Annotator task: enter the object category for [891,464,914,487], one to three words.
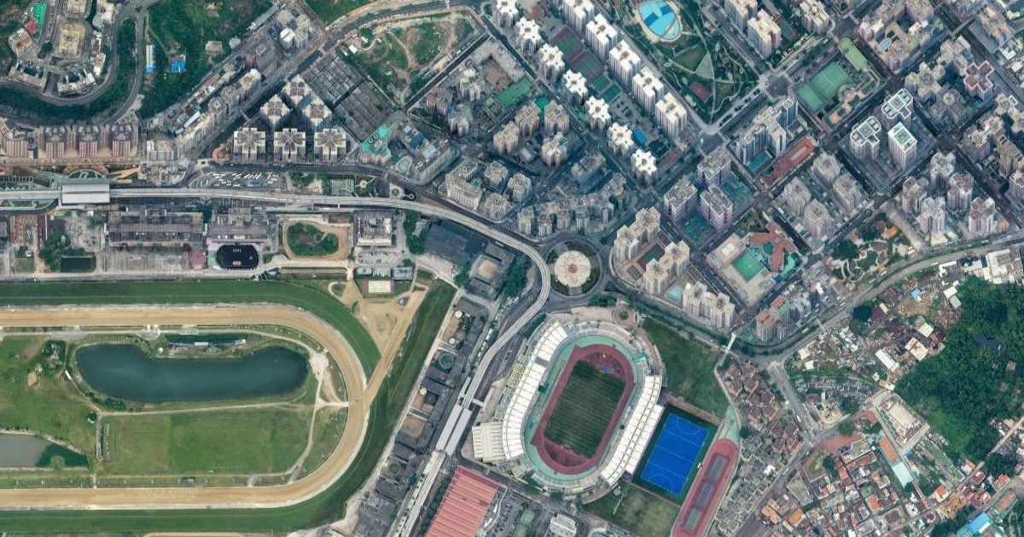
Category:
house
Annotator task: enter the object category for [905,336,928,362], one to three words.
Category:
building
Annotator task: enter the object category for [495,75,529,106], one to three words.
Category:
sports court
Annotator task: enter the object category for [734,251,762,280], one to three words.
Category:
sports court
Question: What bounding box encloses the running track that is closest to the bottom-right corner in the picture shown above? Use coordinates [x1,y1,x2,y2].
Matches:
[670,437,742,537]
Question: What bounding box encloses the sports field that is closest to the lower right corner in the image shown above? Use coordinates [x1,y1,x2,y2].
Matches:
[632,404,718,506]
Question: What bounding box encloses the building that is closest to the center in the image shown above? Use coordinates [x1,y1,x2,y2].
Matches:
[469,244,515,300]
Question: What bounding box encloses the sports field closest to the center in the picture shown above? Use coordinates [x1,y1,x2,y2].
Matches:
[544,361,625,457]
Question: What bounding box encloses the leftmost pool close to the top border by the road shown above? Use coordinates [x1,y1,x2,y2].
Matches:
[635,0,683,44]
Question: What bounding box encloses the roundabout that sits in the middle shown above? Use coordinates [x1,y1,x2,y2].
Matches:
[533,230,612,310]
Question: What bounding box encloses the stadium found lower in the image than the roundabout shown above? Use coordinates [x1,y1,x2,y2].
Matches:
[494,307,666,513]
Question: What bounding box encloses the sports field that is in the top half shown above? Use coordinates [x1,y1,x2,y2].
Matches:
[796,59,853,111]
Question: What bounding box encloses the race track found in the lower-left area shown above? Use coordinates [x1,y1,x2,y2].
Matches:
[0,279,457,534]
